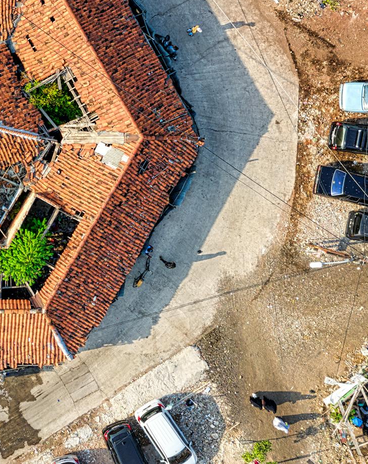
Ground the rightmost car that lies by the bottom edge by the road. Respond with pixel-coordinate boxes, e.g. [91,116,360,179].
[133,387,193,464]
